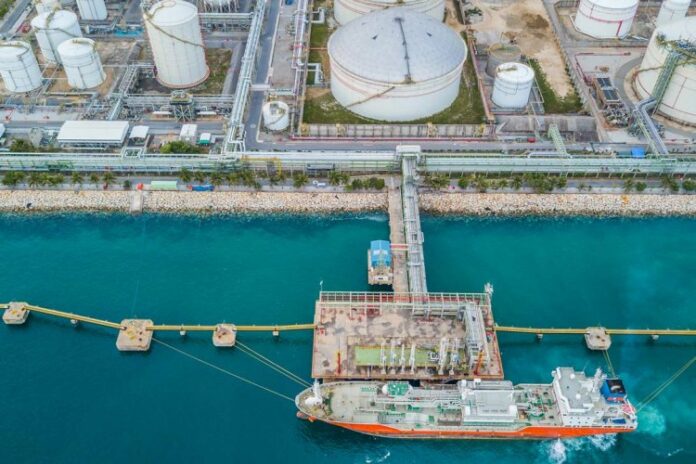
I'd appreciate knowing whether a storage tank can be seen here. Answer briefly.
Yes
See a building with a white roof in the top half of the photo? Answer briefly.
Yes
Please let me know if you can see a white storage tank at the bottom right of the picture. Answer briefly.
No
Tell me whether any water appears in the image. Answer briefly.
Yes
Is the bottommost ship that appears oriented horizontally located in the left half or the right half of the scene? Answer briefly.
right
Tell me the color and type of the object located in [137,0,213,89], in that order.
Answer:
white storage tank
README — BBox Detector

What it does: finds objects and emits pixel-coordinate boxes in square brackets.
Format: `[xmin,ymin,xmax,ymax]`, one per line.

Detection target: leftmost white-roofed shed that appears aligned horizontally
[58,122,130,149]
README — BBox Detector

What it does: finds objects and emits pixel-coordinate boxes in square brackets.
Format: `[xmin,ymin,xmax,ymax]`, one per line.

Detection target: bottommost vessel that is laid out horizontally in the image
[294,353,639,438]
